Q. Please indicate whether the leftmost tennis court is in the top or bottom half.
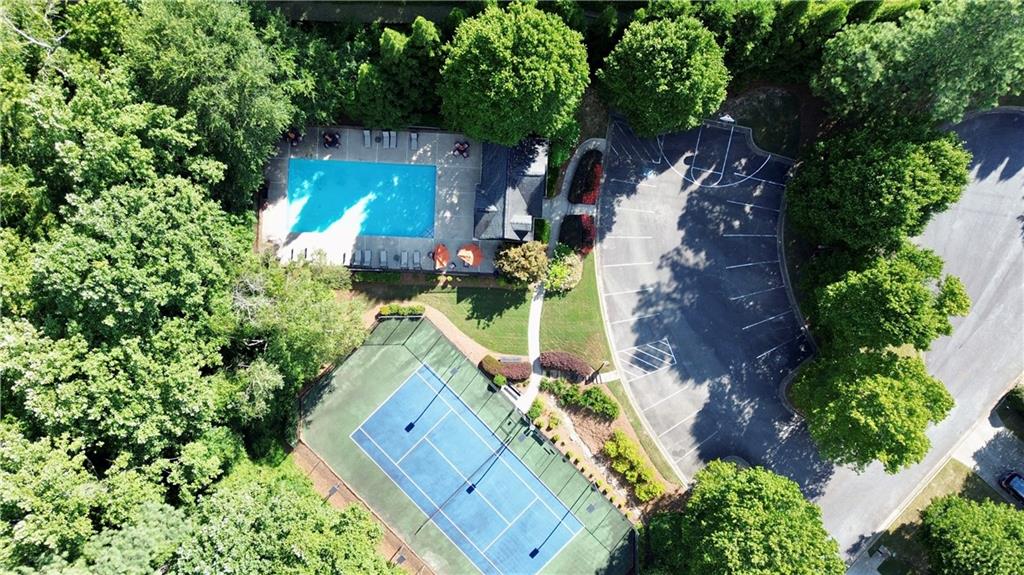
bottom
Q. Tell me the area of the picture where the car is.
bottom right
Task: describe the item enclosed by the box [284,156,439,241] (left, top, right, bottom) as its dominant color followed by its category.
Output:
blue swimming pool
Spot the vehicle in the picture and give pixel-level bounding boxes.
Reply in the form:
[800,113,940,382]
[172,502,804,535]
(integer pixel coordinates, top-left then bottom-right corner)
[1000,468,1024,502]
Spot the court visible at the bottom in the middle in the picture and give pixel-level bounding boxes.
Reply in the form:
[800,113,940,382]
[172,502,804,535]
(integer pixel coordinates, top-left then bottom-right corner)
[301,317,634,575]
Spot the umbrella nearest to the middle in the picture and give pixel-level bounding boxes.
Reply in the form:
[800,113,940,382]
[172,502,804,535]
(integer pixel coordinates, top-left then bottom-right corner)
[457,241,482,266]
